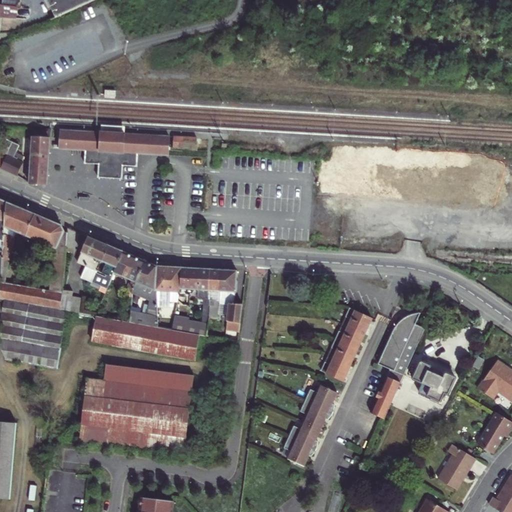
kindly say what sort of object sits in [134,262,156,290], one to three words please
house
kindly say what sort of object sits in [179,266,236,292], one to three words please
house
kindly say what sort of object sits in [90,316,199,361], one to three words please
shed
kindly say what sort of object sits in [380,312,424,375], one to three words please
building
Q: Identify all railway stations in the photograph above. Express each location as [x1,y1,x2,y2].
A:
[58,128,169,179]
